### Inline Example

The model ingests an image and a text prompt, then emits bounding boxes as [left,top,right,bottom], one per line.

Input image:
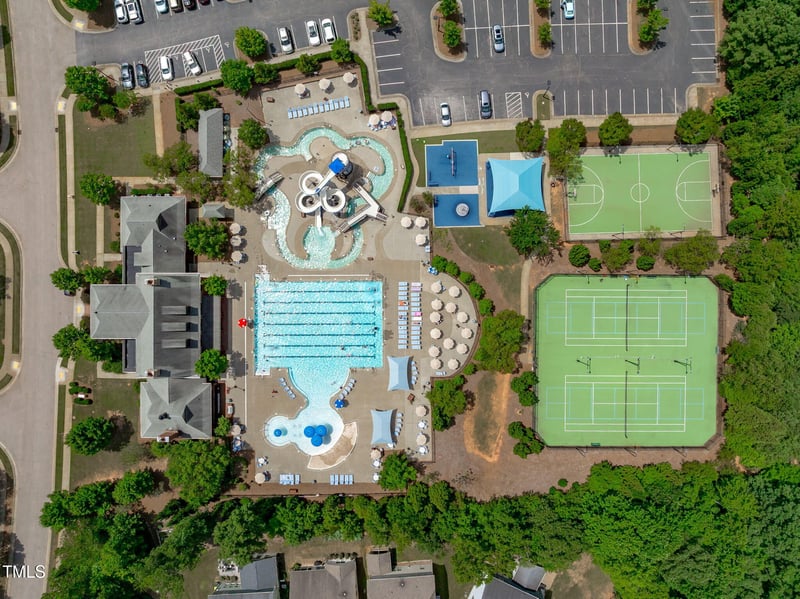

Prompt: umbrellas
[444,338,453,348]
[371,449,381,459]
[344,73,354,84]
[416,217,425,227]
[231,237,241,246]
[430,282,441,292]
[255,472,266,482]
[295,84,305,94]
[381,112,391,122]
[416,235,426,244]
[231,425,241,434]
[320,80,330,90]
[431,329,441,338]
[432,359,441,369]
[448,358,459,368]
[230,223,241,234]
[402,217,411,227]
[445,302,455,312]
[457,344,467,354]
[449,287,459,297]
[430,312,441,322]
[416,406,426,416]
[232,251,242,262]
[432,299,441,309]
[430,346,440,356]
[416,434,426,444]
[458,312,468,322]
[370,116,379,126]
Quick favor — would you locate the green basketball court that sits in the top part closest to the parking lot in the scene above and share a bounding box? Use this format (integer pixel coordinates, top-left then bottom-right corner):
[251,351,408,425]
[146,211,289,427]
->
[565,147,723,240]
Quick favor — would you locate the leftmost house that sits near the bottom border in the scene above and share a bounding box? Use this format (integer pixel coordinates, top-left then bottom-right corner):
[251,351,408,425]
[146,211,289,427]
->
[208,547,282,599]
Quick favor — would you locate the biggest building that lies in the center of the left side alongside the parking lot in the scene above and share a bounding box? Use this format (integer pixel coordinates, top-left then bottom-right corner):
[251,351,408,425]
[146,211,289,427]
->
[89,197,226,444]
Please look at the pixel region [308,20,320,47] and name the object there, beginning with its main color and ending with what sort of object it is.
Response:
white vehicle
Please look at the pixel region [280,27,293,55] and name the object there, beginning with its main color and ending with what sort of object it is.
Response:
white vehicle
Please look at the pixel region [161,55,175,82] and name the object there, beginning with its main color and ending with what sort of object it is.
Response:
white car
